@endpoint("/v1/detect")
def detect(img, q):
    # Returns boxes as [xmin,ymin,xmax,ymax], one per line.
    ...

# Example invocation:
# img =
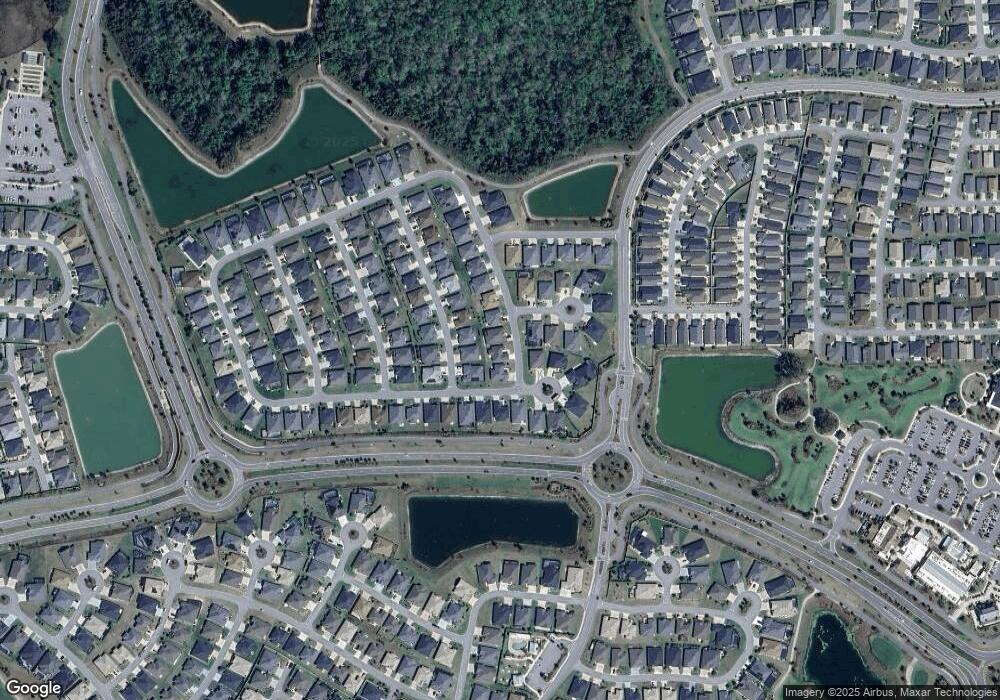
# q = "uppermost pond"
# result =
[213,0,312,31]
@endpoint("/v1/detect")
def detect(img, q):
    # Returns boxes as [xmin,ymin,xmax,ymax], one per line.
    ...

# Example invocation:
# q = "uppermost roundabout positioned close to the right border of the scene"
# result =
[966,466,994,494]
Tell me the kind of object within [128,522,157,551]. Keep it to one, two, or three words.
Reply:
house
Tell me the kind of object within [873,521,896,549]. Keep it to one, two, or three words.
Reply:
building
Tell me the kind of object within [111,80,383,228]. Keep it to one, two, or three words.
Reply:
pond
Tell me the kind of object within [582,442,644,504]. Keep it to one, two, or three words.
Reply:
roundabout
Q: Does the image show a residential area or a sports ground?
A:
residential area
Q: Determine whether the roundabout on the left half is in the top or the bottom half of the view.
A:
bottom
